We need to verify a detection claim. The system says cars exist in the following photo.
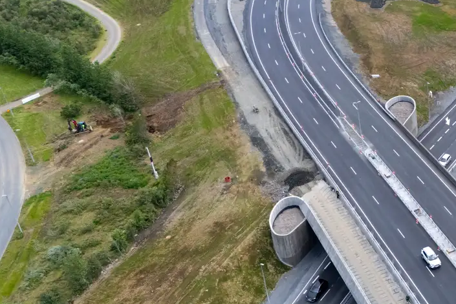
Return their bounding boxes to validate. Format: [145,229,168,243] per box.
[439,153,453,167]
[421,246,440,268]
[305,279,328,302]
